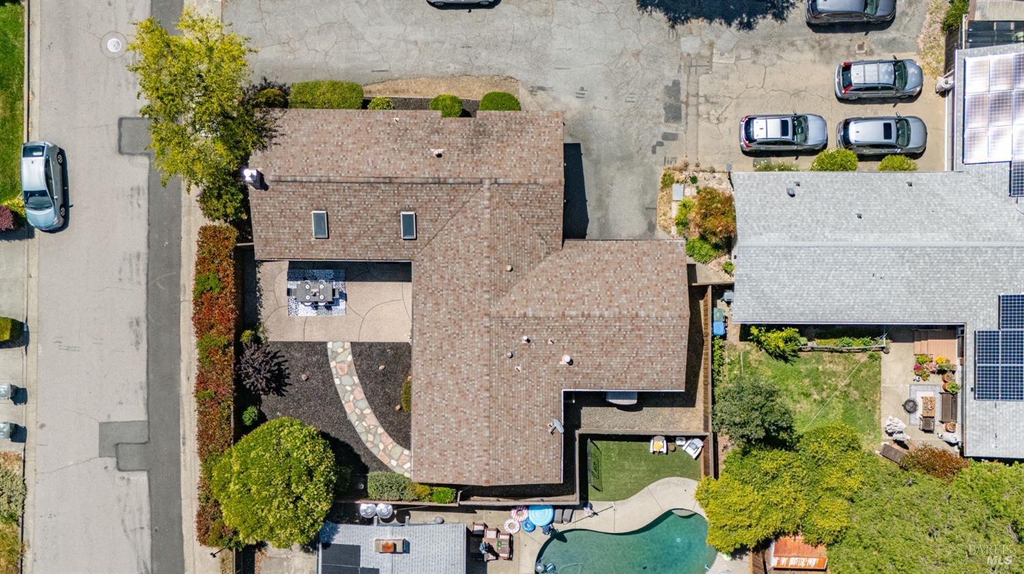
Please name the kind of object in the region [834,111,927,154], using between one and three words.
car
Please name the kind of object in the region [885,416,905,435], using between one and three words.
umbrella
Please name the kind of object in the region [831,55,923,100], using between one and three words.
car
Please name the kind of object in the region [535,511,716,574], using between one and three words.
swimming pool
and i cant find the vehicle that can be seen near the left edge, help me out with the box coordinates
[22,141,72,232]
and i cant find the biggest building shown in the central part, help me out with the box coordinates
[246,109,689,489]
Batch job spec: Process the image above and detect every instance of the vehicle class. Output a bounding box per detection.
[834,111,927,154]
[738,109,828,153]
[831,55,923,100]
[803,0,895,26]
[22,141,72,232]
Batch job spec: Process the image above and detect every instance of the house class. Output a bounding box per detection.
[316,516,468,574]
[246,109,689,489]
[728,34,1024,460]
